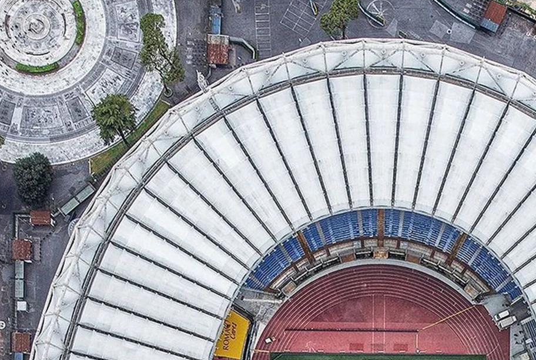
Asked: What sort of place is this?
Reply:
sports ground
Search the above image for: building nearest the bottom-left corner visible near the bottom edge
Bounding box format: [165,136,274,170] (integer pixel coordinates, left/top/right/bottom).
[10,332,34,353]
